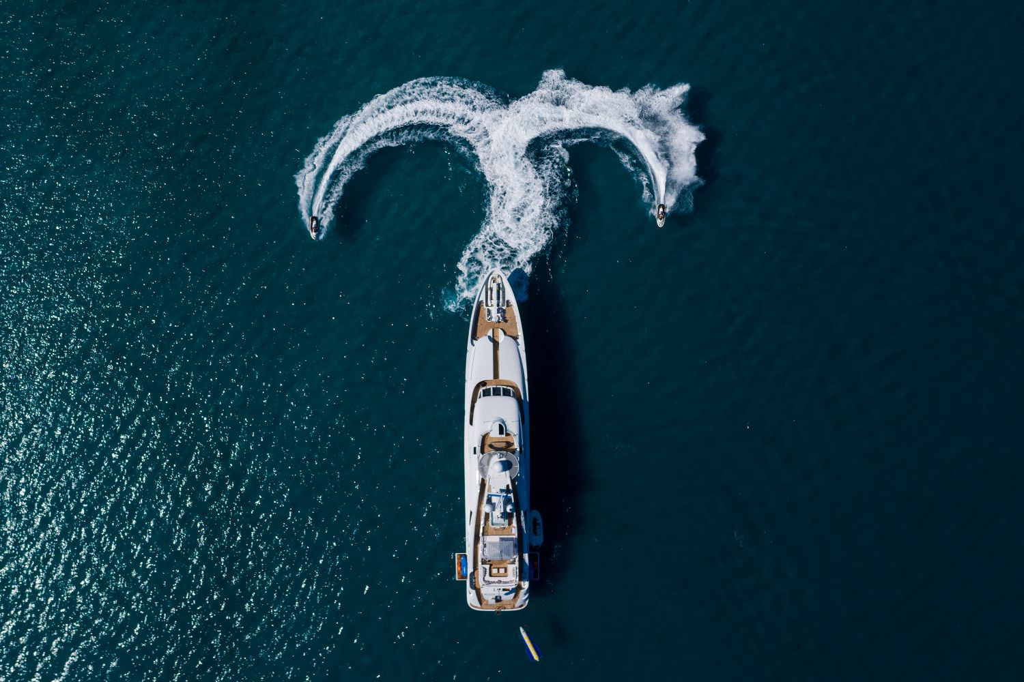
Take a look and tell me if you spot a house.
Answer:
No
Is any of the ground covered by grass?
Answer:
No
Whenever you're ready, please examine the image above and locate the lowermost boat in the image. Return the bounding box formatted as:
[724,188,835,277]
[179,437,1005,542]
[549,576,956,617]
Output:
[521,628,543,663]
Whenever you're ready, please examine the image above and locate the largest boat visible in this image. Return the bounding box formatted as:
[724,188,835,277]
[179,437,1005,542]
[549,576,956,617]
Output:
[455,269,539,615]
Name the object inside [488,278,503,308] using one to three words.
boat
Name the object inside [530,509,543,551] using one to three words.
boat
